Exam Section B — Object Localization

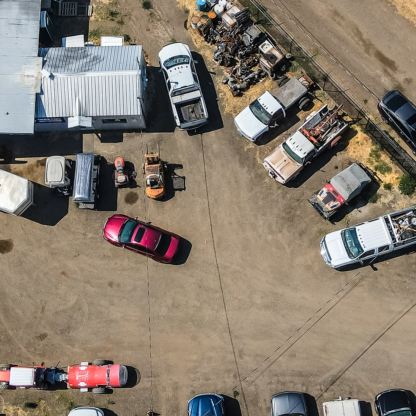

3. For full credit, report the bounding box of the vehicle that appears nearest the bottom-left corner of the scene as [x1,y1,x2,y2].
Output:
[0,362,56,393]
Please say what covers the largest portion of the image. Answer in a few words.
paved ground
